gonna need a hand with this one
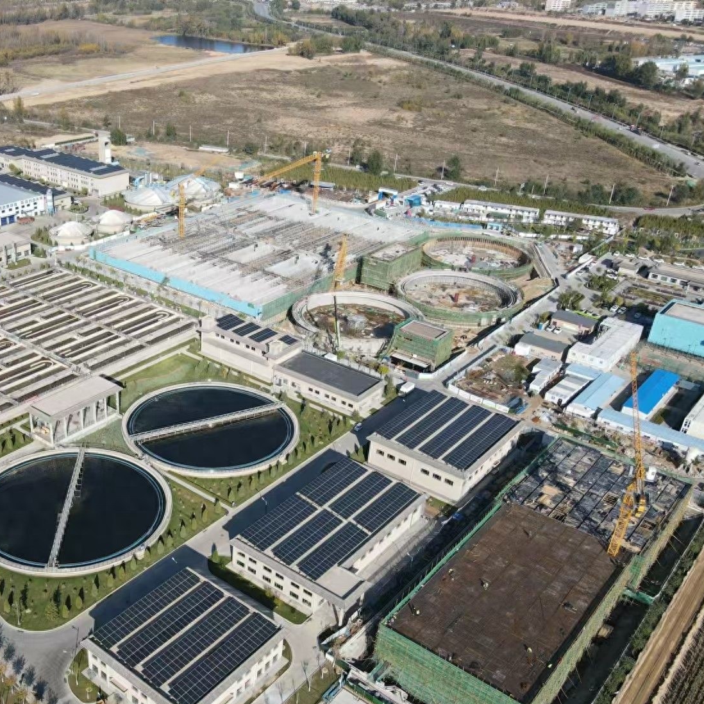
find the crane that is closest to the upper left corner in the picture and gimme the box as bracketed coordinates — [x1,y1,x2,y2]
[170,153,221,240]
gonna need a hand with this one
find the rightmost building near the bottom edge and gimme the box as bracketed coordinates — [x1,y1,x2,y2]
[372,438,690,704]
